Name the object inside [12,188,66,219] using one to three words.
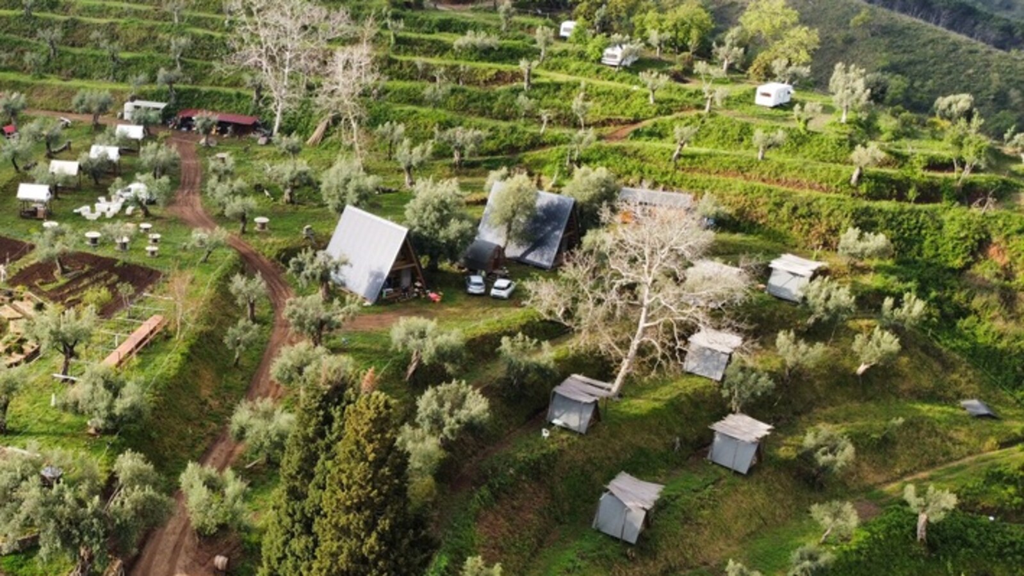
shed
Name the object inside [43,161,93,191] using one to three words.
shed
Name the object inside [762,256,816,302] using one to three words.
building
